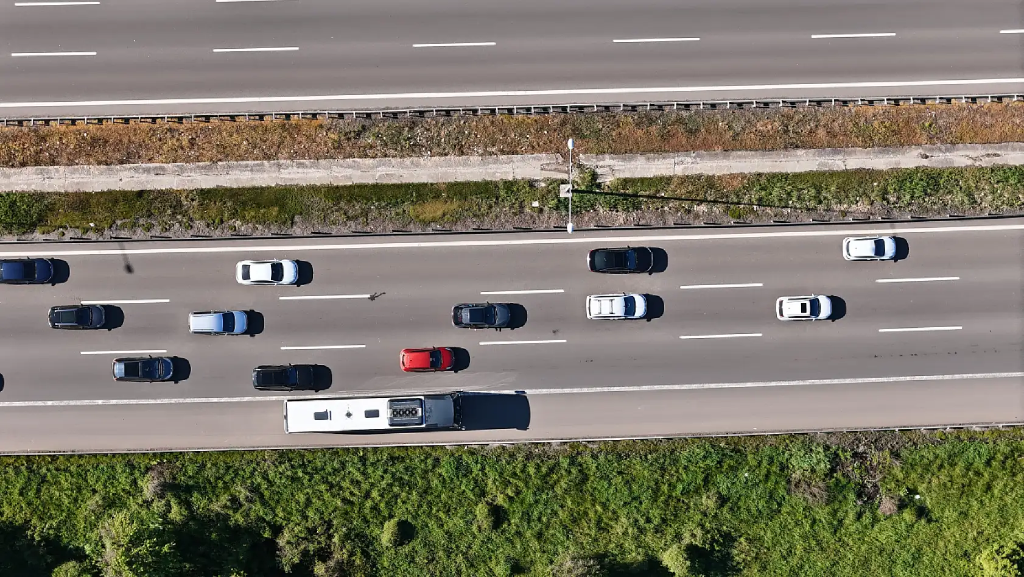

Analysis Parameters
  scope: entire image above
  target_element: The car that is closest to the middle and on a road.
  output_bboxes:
[451,300,511,331]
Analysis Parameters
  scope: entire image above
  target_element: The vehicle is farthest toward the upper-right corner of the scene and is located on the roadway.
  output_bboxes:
[843,234,896,263]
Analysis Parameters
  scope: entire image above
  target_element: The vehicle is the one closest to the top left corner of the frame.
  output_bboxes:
[0,256,54,287]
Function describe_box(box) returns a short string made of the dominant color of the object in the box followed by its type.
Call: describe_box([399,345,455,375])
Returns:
red car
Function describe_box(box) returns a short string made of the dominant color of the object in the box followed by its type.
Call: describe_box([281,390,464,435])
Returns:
white bus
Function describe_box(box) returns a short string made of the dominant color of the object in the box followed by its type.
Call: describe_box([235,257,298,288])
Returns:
white car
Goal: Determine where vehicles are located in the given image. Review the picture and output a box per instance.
[188,307,248,337]
[48,302,106,333]
[235,257,298,288]
[843,234,896,263]
[451,300,511,331]
[281,390,464,435]
[399,345,455,375]
[0,256,54,287]
[586,291,647,322]
[587,244,653,275]
[252,362,315,394]
[111,354,173,385]
[776,293,832,323]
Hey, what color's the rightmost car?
white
